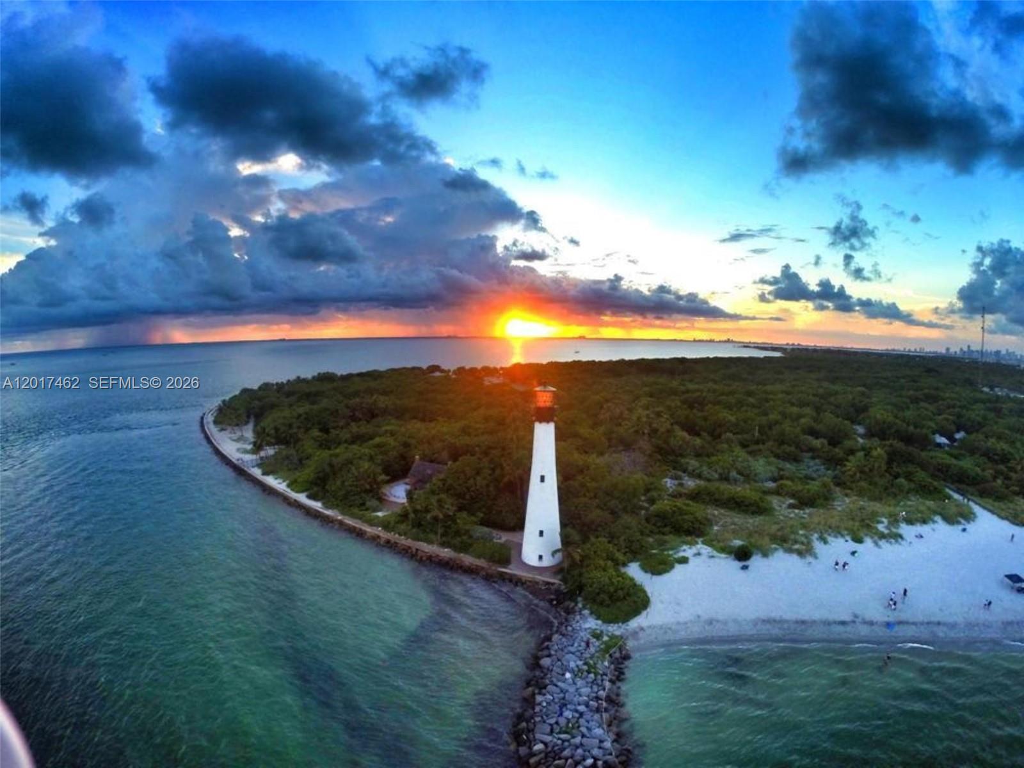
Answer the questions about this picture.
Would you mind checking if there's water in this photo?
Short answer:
Yes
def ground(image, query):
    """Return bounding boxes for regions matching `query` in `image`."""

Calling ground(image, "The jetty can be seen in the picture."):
[509,589,638,768]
